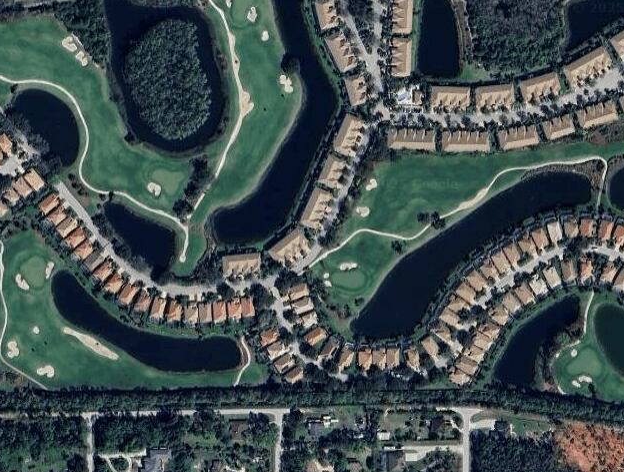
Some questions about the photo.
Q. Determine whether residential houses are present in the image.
Yes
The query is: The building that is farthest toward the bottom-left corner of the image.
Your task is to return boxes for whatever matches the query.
[145,451,171,472]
